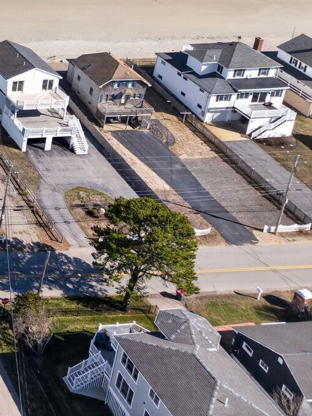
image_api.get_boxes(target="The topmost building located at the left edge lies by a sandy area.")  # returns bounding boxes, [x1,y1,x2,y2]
[0,38,95,157]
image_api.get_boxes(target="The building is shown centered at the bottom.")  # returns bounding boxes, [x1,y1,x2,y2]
[59,308,282,416]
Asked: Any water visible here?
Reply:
No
